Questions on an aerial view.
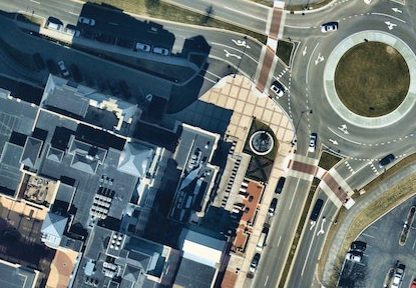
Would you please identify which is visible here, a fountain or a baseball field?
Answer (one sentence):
Visible in the photo is a fountain.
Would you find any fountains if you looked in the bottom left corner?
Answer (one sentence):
No, there's no fountain to be seen in the bottom left corner.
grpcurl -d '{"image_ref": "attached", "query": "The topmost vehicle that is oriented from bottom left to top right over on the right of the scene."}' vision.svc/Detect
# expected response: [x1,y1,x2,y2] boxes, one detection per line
[378,154,395,168]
